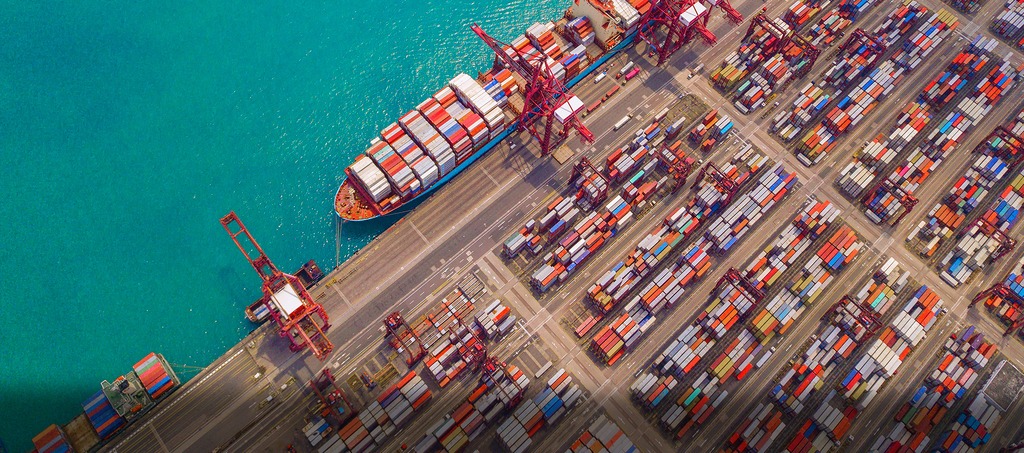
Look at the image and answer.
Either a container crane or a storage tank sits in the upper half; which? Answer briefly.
container crane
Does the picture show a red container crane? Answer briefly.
Yes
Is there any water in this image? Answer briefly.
Yes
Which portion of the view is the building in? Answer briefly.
bottom right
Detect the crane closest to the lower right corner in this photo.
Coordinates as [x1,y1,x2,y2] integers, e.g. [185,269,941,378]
[967,285,1024,333]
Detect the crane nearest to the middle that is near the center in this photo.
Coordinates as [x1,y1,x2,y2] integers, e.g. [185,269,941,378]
[570,159,612,207]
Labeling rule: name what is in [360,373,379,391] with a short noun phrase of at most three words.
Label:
work vehicle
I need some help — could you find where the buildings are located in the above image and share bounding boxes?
[972,360,1024,412]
